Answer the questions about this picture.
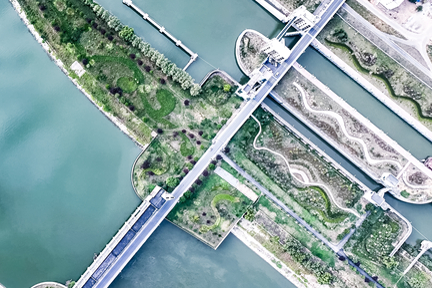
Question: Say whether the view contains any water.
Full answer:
Yes, water can be seen from above here.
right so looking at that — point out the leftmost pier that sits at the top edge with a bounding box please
[122,0,198,71]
